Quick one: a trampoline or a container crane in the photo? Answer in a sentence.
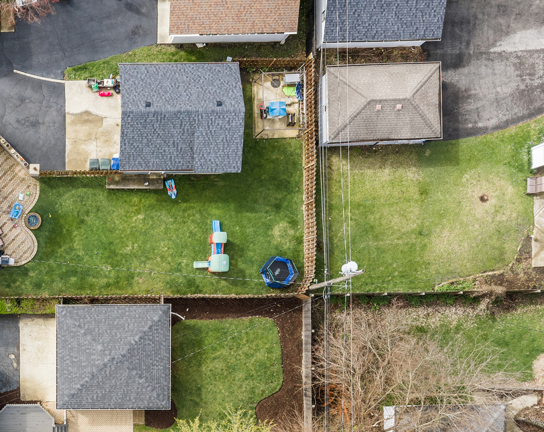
Looking from above, you can make out a trampoline.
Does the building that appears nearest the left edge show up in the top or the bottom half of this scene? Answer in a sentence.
The bottom half of the photo is where the building that appears nearest the left edge is.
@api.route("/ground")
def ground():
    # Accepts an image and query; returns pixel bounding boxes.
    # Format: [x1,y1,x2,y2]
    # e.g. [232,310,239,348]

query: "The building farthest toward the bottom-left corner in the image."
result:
[56,304,172,410]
